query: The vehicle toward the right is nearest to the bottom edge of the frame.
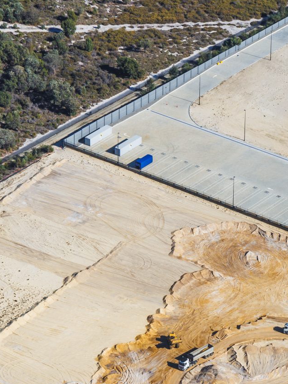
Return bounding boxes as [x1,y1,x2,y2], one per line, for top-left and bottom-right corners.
[178,345,216,370]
